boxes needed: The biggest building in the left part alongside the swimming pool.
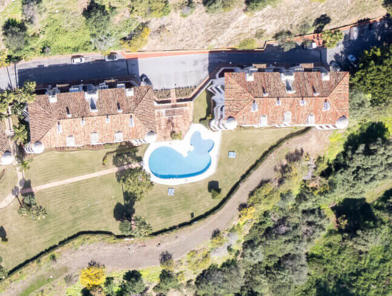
[15,76,159,159]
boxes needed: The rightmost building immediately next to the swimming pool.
[202,61,350,137]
